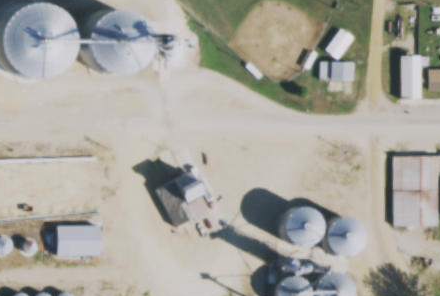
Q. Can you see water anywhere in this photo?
No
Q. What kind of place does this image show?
industrial area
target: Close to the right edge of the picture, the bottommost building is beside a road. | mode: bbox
[391,156,440,226]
